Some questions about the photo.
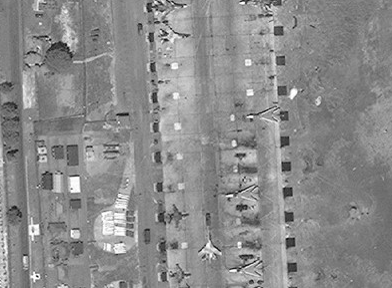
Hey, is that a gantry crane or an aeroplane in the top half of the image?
aeroplane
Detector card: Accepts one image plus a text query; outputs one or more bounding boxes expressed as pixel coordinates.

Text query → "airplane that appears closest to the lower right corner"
[229,261,263,277]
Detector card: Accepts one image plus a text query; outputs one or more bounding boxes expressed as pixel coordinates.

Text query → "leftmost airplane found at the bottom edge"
[169,264,193,285]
